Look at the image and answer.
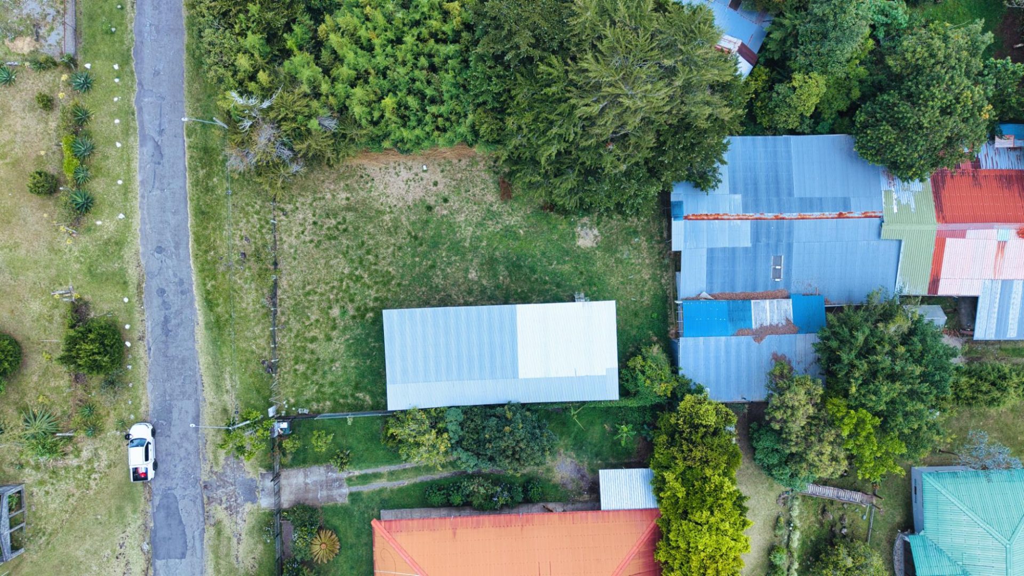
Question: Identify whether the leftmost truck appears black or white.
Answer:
white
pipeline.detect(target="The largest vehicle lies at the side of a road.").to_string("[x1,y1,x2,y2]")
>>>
[125,422,157,484]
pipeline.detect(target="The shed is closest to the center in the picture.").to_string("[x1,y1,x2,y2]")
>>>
[383,300,619,410]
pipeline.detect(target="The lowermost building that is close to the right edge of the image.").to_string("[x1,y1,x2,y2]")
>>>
[910,463,1024,576]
